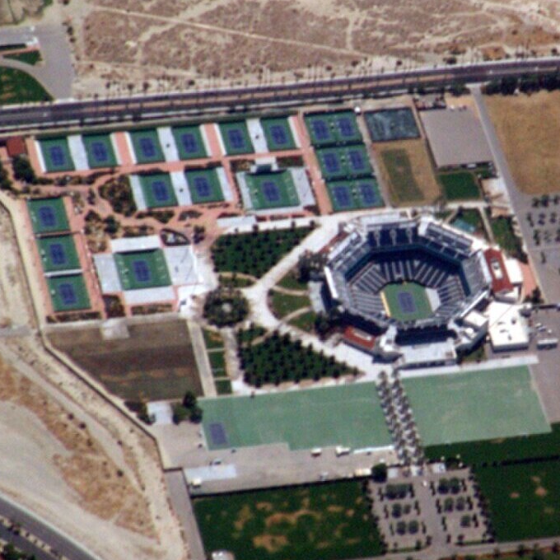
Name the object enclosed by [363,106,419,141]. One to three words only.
tennis court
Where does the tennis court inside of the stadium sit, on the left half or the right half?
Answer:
right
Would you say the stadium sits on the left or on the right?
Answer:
right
